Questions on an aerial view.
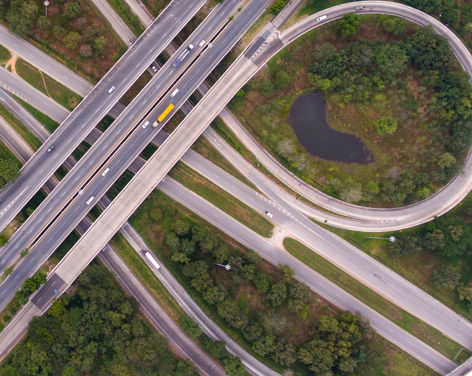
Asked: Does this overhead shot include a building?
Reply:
No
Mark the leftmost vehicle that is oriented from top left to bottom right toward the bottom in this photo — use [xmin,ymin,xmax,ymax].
[144,251,161,270]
